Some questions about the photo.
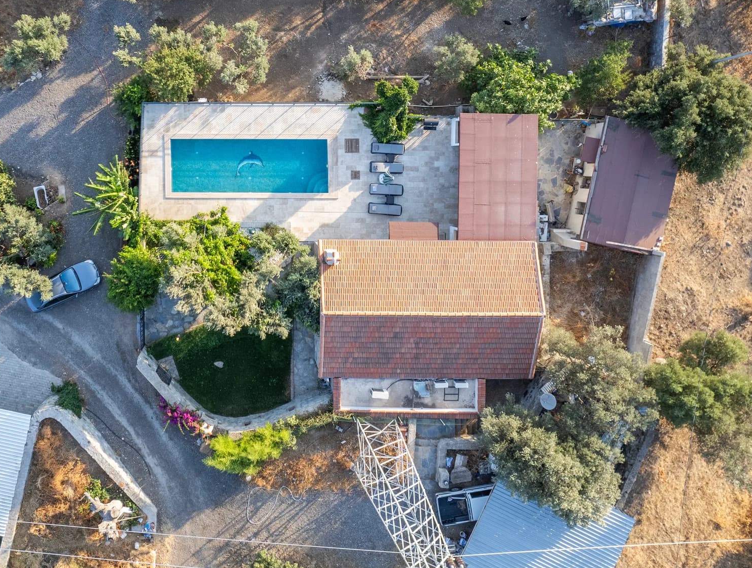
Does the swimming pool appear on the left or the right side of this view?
left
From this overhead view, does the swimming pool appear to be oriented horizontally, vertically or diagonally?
horizontally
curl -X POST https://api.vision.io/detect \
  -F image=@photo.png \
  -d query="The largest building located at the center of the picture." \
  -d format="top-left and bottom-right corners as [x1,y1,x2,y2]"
[317,238,546,424]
